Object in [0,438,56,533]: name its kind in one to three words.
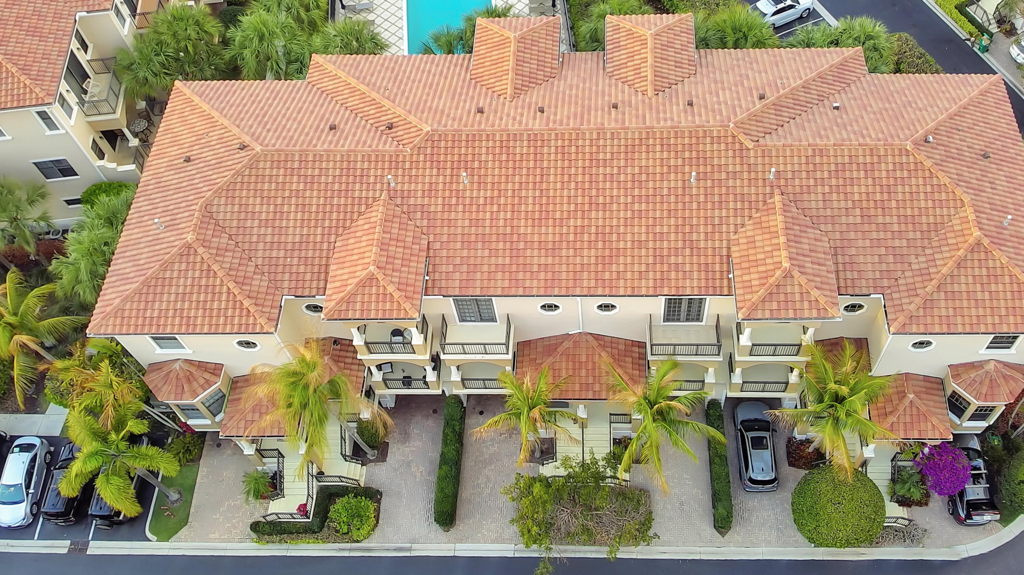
car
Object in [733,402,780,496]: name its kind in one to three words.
car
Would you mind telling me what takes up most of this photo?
buildings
